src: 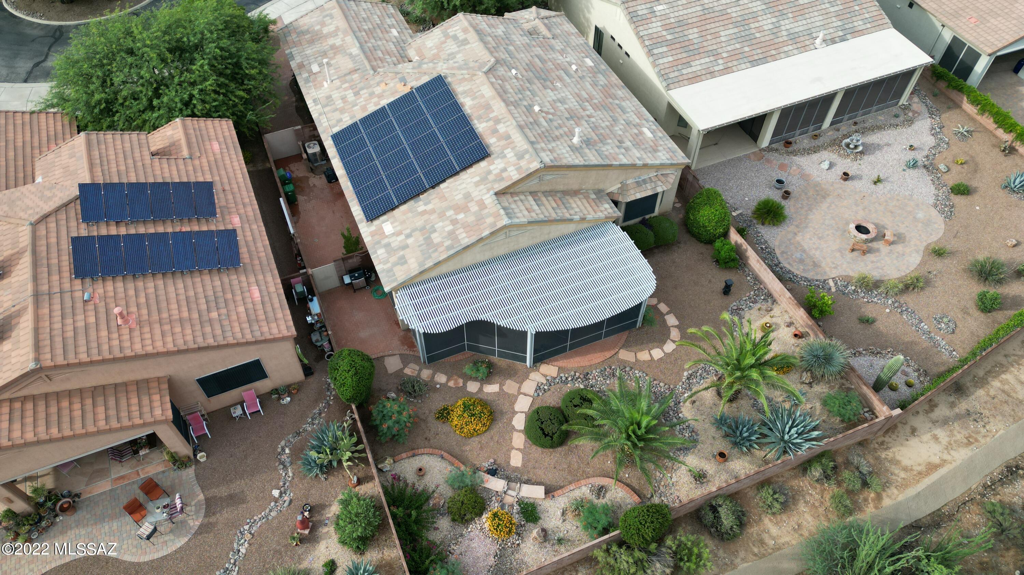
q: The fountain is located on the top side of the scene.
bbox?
[843,130,865,153]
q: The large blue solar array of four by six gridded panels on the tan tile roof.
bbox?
[308,73,488,222]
